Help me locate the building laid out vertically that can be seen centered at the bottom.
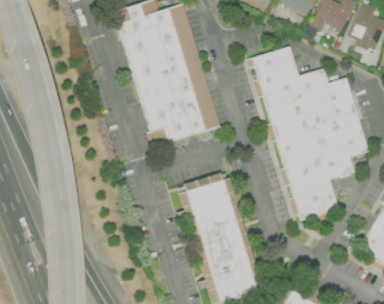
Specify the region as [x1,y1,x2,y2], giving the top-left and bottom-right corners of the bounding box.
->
[180,174,258,304]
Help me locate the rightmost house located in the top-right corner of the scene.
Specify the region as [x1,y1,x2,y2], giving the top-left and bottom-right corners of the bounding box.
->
[348,4,384,50]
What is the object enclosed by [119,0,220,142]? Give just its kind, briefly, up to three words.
building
